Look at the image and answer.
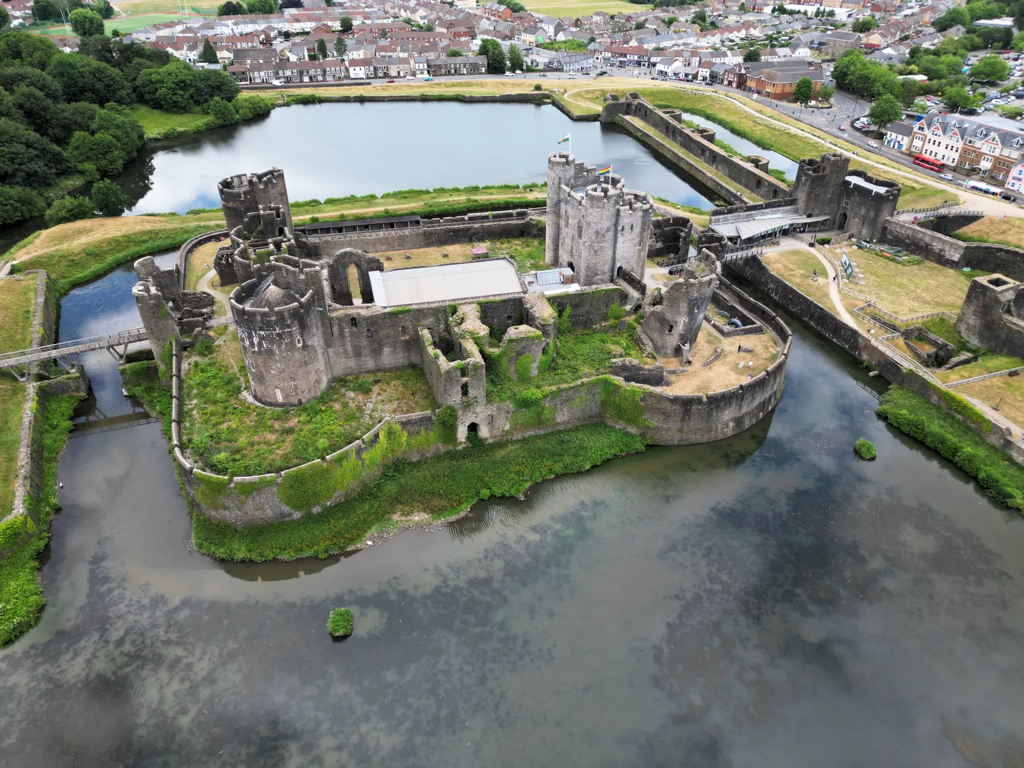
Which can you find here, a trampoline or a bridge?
bridge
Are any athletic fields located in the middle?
No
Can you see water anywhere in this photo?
Yes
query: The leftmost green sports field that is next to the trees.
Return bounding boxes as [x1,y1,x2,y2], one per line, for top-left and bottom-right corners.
[36,13,194,40]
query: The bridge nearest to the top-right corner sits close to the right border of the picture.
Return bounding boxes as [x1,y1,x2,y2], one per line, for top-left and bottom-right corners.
[902,192,974,228]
